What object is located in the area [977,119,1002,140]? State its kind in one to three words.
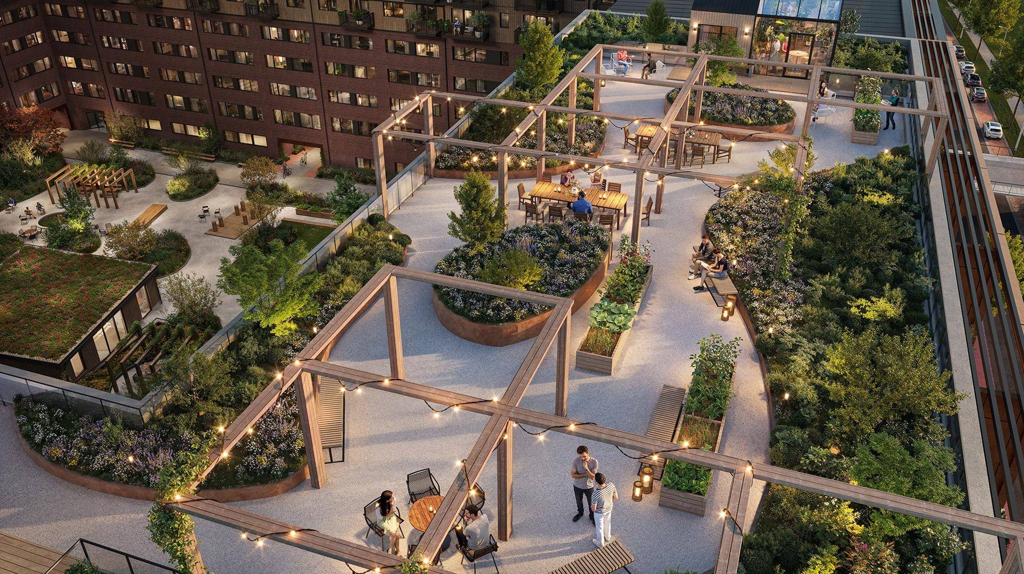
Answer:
car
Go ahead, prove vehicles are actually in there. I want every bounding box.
[961,70,982,86]
[953,44,971,59]
[977,119,1002,140]
[966,85,988,103]
[958,58,976,73]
